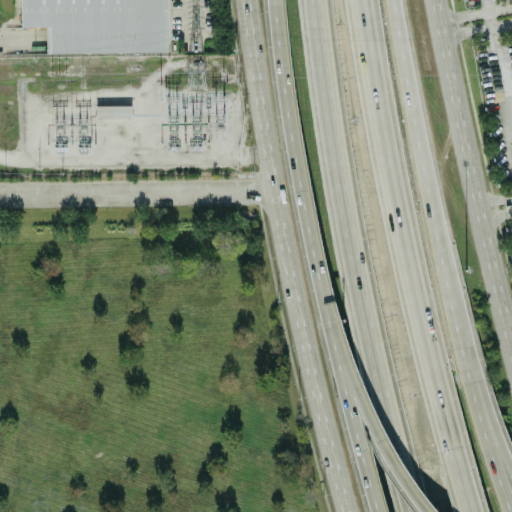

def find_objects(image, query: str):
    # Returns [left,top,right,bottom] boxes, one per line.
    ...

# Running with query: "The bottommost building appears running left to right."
[96,106,134,119]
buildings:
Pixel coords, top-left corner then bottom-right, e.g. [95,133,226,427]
[22,0,170,54]
[96,106,134,119]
